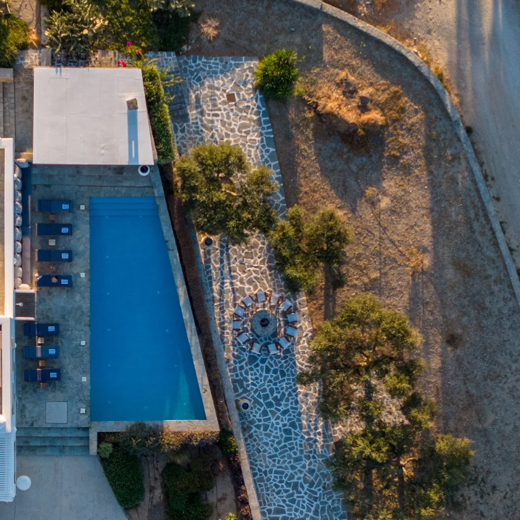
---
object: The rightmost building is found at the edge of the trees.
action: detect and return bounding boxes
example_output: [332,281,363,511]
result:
[33,67,154,167]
